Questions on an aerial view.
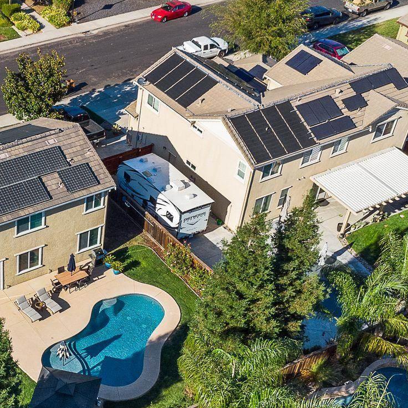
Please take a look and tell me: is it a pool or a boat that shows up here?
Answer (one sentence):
There is a pool in the scene.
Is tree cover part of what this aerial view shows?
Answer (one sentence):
Yes, tree cover shows up in the scene.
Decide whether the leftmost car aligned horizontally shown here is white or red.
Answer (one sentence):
From above, the leftmost car aligned horizontally appears red.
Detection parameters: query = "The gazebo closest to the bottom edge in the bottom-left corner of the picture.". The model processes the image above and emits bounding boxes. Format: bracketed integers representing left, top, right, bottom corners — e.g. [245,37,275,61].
[29,368,102,408]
